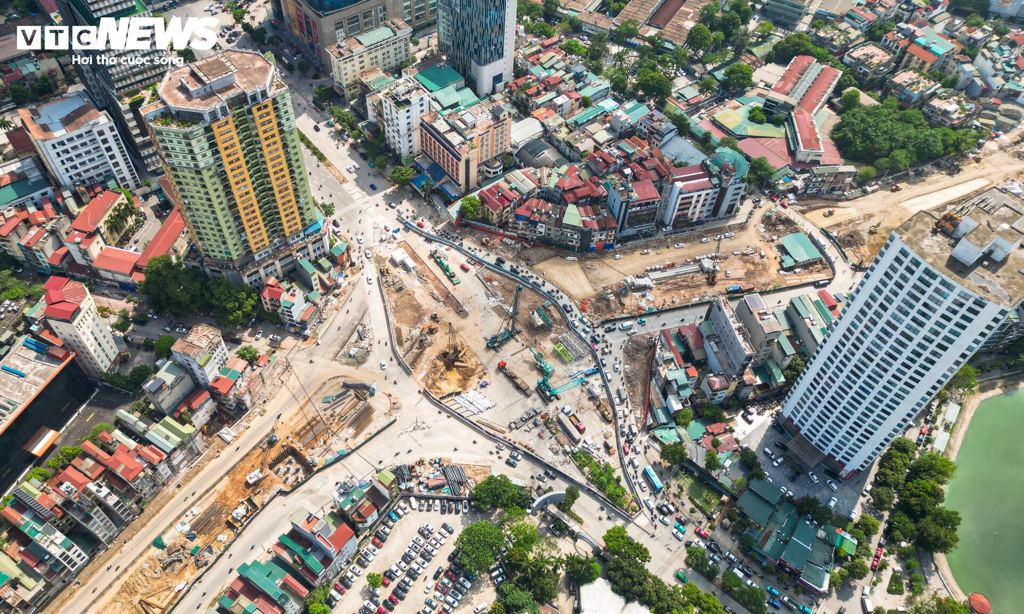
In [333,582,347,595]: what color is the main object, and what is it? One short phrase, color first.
red vehicle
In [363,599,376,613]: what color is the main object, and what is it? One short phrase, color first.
white vehicle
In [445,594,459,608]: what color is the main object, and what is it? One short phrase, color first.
white car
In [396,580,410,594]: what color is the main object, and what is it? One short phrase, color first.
gray car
